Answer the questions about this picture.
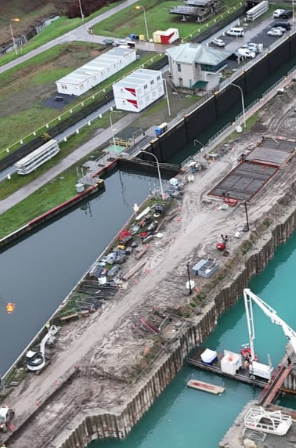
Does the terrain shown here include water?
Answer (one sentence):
Yes, there's water in this view.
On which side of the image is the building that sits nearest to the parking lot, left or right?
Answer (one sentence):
The building that sits nearest to the parking lot is on the right side of the image.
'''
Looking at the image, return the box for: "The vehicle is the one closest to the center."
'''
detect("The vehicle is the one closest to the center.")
[184,153,208,172]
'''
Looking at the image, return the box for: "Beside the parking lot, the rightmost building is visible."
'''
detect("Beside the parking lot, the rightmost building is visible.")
[159,38,228,102]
